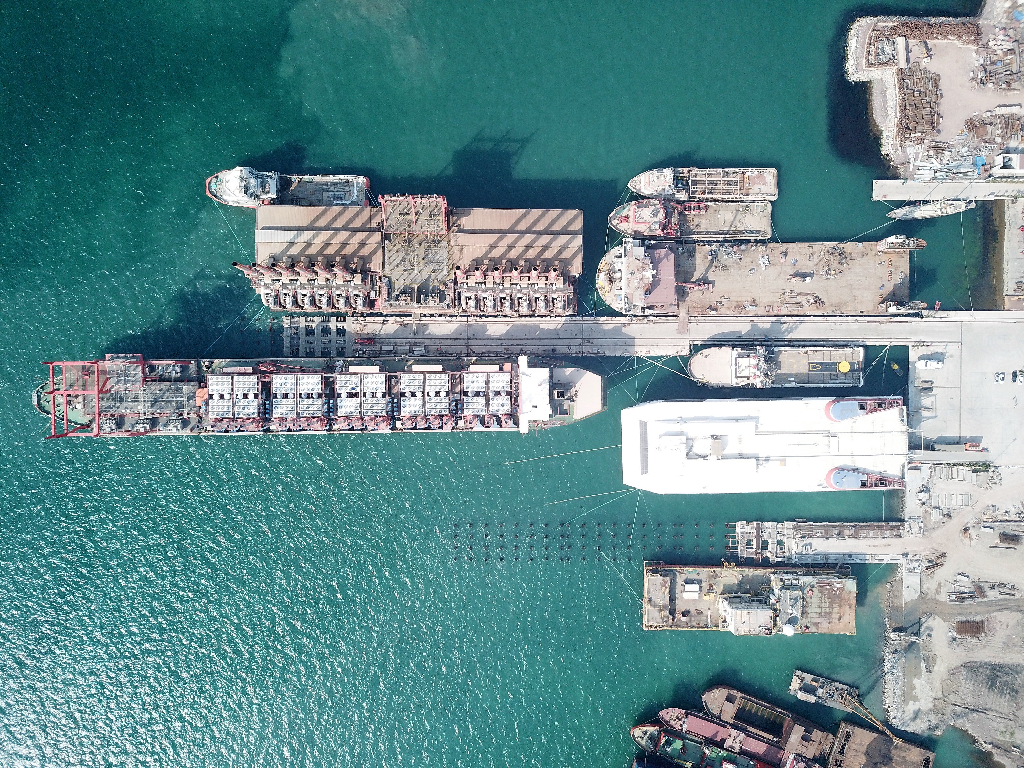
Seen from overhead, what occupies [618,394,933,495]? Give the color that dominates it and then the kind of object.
white ship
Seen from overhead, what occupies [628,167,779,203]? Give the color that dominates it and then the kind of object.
white vessel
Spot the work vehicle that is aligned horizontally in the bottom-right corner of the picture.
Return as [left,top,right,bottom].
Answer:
[888,630,923,643]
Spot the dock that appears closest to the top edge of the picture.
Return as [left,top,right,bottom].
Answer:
[871,176,1024,201]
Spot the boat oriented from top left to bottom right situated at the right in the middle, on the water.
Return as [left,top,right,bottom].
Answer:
[891,362,904,377]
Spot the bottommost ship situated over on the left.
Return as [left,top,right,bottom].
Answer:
[32,353,608,437]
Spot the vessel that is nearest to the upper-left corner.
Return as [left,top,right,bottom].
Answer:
[205,167,372,210]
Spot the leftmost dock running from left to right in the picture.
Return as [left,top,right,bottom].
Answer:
[270,317,353,357]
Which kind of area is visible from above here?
port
